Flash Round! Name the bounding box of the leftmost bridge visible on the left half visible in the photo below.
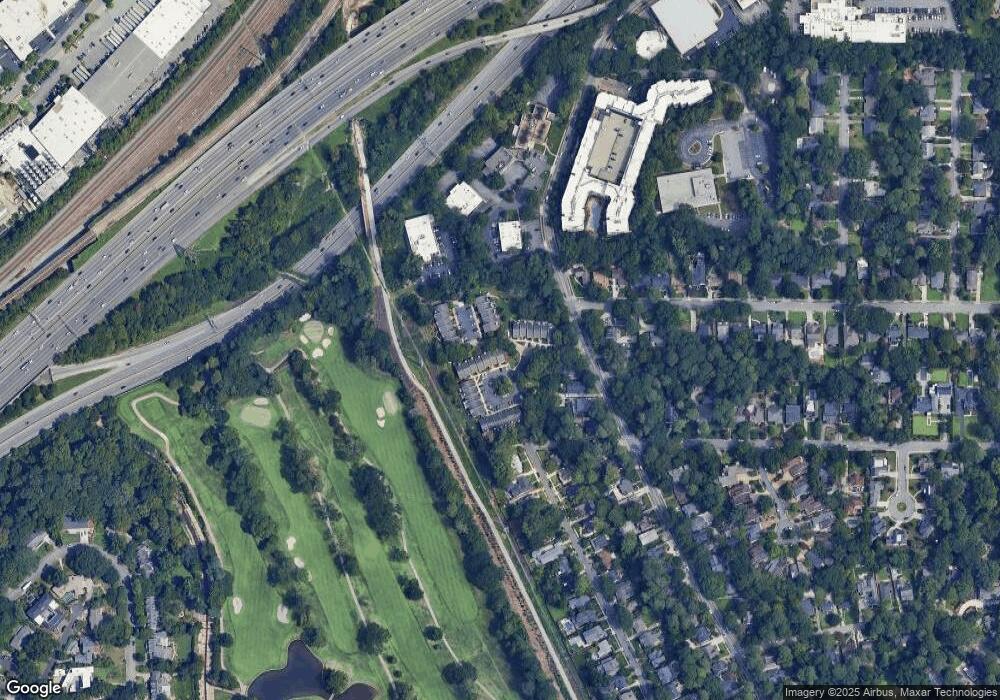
[0,226,100,310]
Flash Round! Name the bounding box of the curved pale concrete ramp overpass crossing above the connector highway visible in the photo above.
[438,0,641,62]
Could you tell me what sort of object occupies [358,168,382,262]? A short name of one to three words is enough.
bridge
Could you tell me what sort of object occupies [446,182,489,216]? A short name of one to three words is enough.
building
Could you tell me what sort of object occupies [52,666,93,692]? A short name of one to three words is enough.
building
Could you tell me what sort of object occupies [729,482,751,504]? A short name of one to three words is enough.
house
